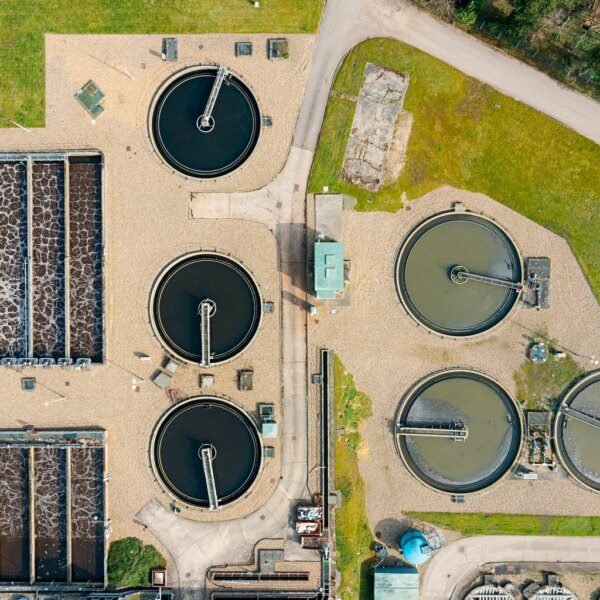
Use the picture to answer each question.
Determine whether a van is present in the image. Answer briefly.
No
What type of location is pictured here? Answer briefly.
industrial area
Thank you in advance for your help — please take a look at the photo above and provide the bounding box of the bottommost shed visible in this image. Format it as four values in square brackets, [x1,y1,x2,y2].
[373,564,419,600]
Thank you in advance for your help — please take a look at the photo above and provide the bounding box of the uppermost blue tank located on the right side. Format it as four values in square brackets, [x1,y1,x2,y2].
[398,518,448,564]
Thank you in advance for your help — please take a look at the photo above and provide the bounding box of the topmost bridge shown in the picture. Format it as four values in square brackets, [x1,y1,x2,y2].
[200,64,230,124]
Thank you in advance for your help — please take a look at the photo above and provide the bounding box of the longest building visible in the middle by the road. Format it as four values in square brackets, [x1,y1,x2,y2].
[314,232,343,298]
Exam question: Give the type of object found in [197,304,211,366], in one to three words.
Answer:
bridge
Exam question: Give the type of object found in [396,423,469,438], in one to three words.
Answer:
bridge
